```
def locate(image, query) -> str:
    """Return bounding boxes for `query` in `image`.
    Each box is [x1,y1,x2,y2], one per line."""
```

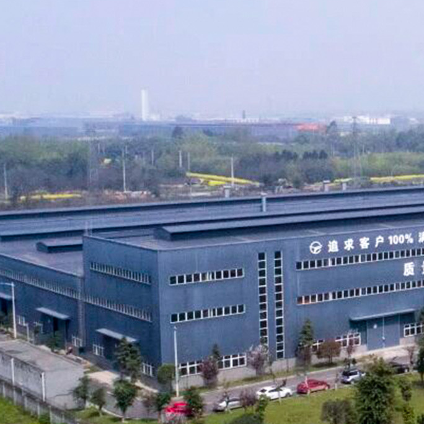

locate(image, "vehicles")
[295,380,330,395]
[263,386,292,402]
[215,396,252,411]
[385,361,412,374]
[339,369,365,386]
